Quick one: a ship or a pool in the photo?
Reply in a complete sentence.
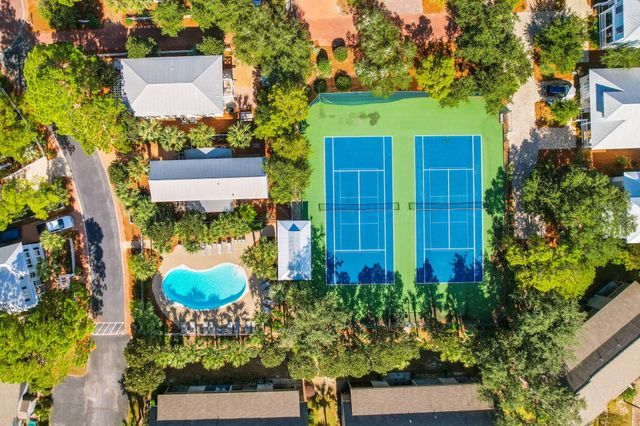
I can see a pool in this picture.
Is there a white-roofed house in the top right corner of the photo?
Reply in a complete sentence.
Yes, a white-roofed house shows up in the top right corner of the photo.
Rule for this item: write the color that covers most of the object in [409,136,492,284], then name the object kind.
blue tennis court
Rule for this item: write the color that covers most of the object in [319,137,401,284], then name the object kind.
blue tennis court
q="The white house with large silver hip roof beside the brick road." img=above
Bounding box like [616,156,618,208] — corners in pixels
[121,57,238,119]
